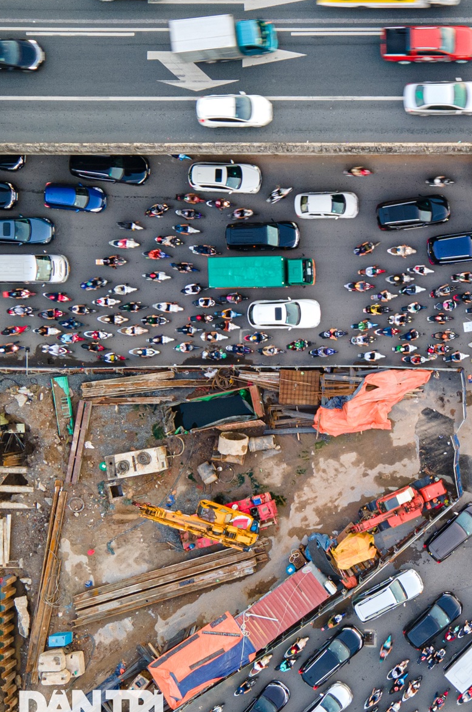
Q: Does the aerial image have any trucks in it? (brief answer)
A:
Yes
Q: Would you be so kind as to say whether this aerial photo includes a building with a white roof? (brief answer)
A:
No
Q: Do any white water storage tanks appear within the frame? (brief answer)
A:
No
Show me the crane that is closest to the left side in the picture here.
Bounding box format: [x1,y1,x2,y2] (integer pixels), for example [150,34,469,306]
[140,481,290,554]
